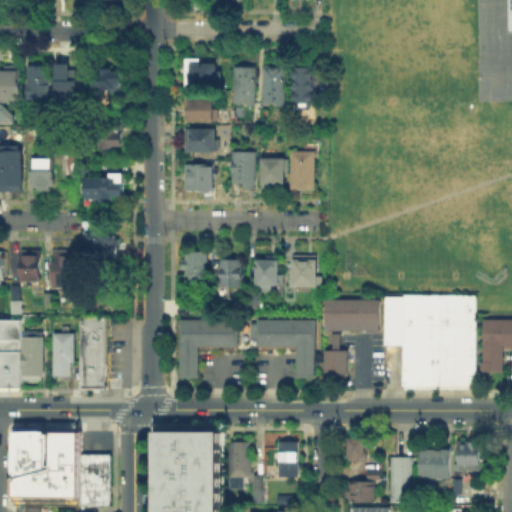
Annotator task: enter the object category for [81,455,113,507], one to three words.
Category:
building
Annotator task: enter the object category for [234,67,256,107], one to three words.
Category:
house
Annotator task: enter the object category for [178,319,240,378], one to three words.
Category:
building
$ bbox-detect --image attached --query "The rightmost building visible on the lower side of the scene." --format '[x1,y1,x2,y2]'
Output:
[480,319,512,374]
